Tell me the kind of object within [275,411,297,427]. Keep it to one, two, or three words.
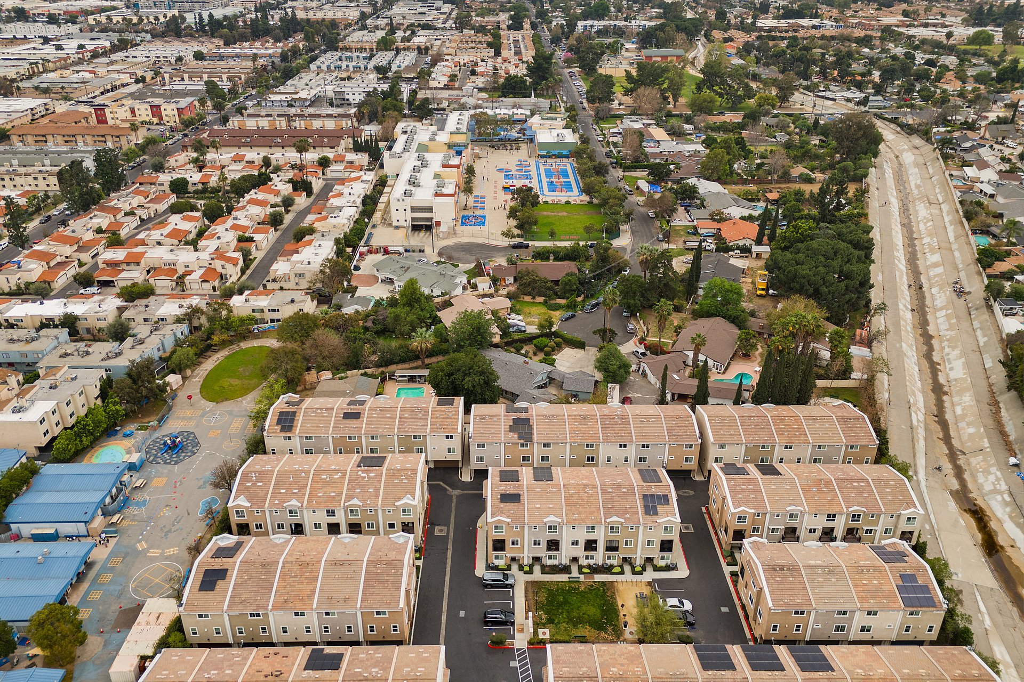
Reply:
solar array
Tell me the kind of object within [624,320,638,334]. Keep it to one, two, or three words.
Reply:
vehicle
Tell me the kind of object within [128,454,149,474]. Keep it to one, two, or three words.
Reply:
shed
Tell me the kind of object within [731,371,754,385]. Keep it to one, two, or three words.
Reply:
swimming pool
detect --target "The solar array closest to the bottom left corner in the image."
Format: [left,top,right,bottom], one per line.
[194,567,228,594]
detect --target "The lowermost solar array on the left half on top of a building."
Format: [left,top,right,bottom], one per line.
[296,649,341,676]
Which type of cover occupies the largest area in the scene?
buildings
